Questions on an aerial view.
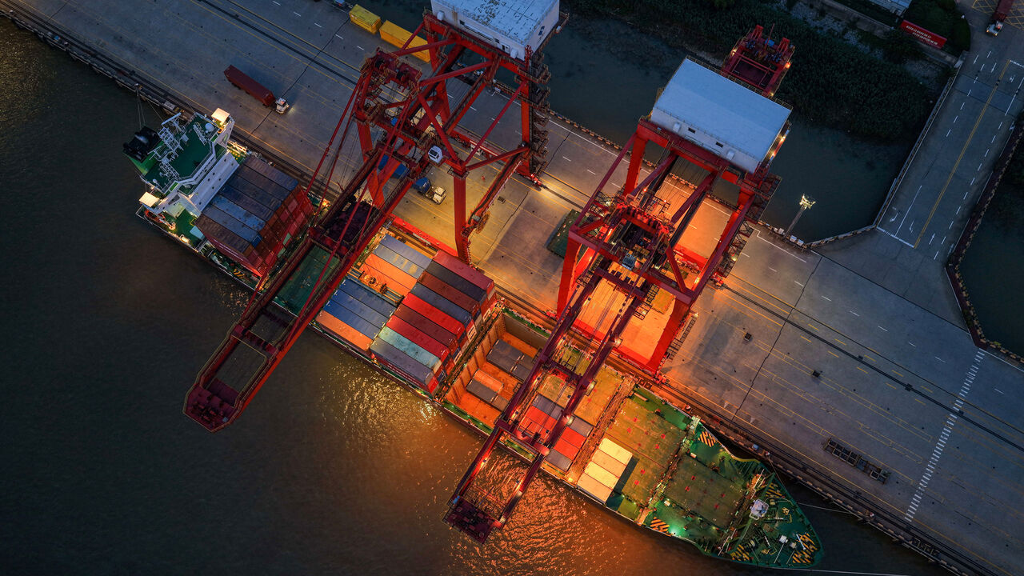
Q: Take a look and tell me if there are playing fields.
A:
No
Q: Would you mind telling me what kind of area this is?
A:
port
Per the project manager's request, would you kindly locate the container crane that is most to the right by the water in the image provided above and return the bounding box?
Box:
[432,15,797,547]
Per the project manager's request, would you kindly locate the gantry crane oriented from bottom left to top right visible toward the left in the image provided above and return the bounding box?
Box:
[172,0,581,424]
